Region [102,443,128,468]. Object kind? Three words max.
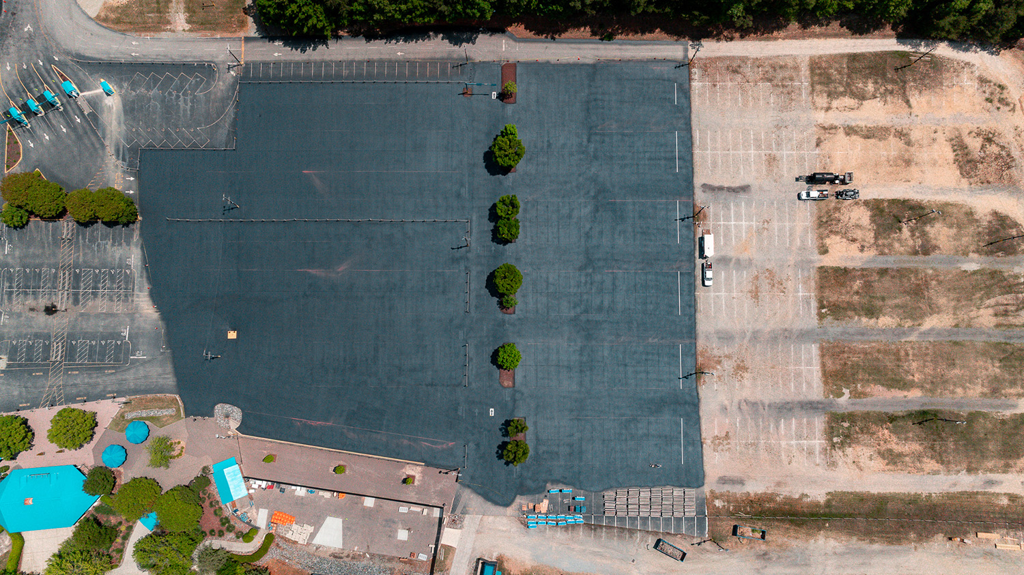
umbrella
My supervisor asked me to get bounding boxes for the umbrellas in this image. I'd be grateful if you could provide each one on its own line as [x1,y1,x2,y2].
[102,443,128,468]
[126,420,150,444]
